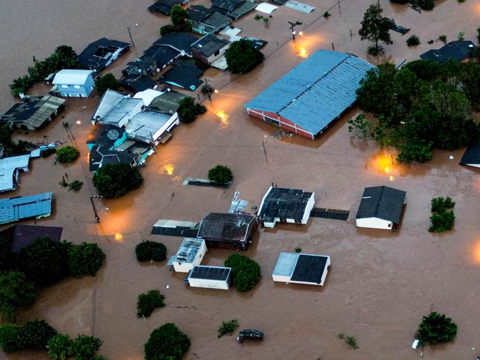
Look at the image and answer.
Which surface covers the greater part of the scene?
water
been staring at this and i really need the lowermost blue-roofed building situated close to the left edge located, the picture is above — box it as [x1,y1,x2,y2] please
[0,192,53,226]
